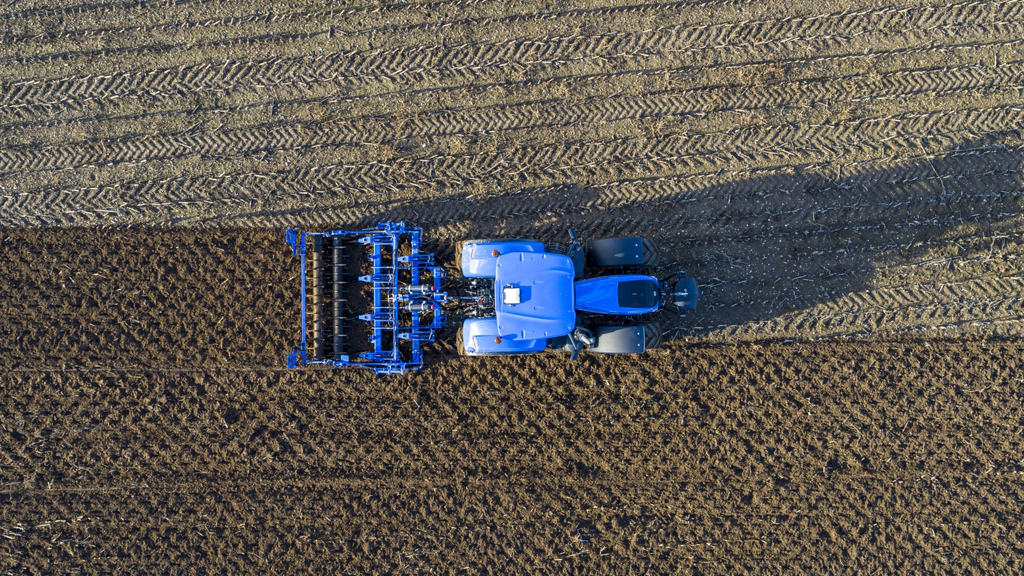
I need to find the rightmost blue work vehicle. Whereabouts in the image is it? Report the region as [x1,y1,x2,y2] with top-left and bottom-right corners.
[444,227,686,360]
